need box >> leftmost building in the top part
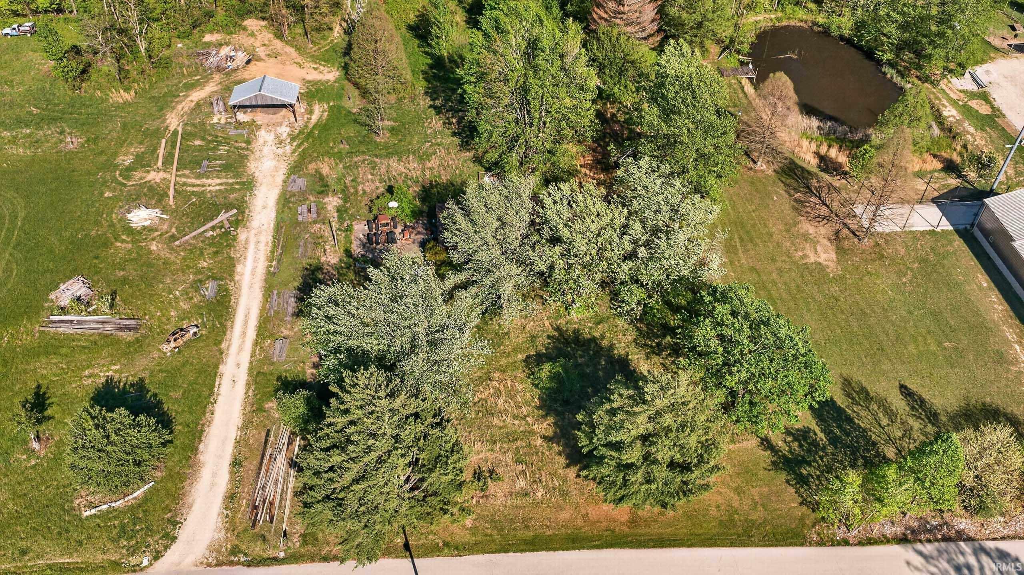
[227,75,304,123]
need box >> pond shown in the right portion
[747,26,904,132]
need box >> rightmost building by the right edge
[972,191,1024,300]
